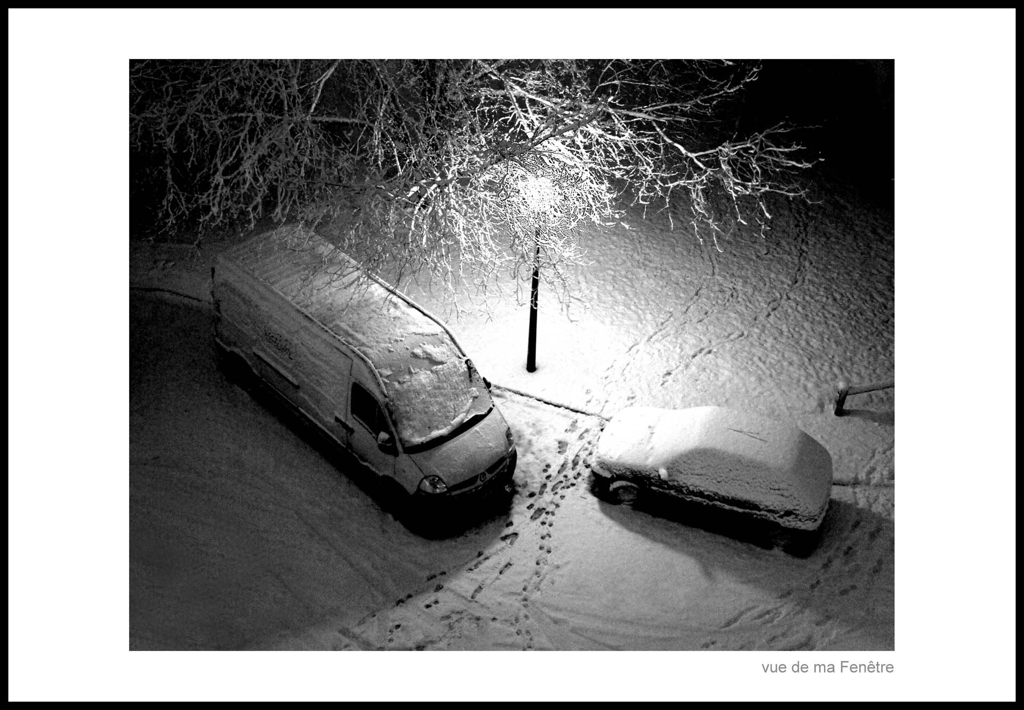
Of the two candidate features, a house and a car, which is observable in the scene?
car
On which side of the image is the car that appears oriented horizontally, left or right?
right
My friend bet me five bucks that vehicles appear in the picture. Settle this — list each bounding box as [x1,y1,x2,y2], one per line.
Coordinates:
[218,224,521,526]
[587,399,849,552]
